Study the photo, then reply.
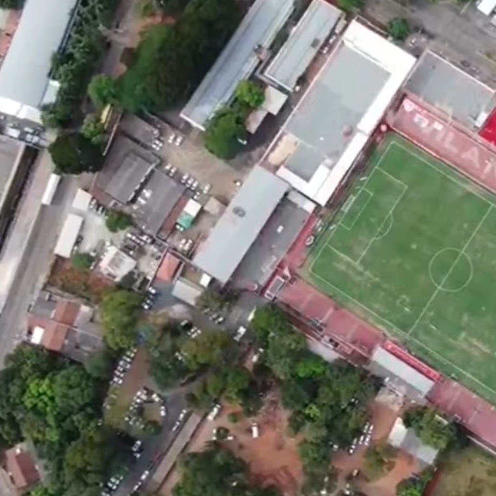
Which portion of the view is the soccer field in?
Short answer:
right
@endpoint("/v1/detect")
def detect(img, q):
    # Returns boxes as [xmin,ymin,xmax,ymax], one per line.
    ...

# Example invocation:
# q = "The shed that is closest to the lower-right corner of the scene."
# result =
[401,427,439,465]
